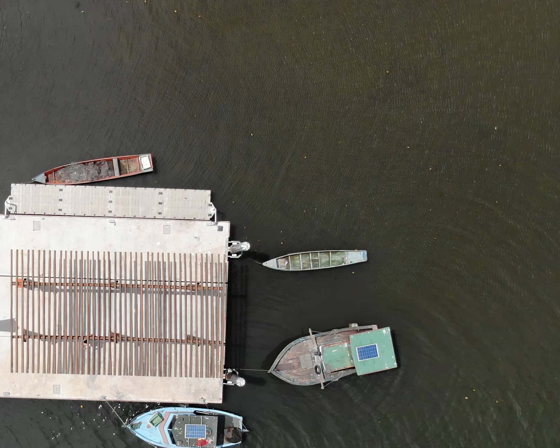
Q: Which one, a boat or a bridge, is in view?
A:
boat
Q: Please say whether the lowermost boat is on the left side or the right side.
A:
left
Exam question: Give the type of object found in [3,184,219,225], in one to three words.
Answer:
pier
